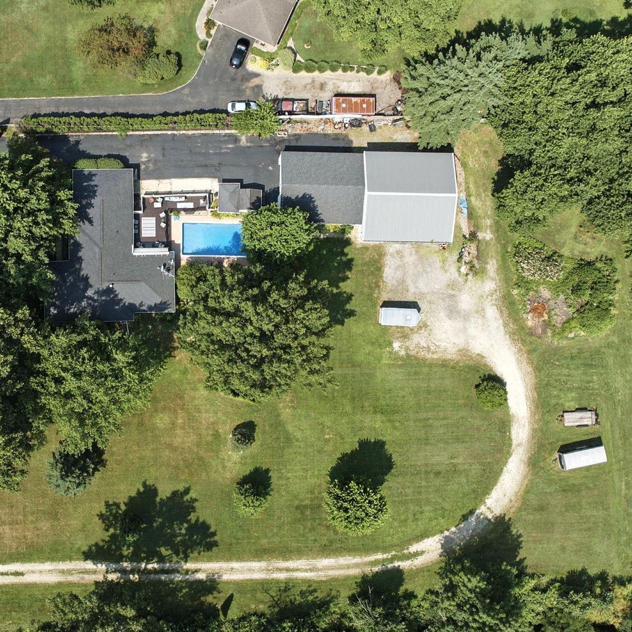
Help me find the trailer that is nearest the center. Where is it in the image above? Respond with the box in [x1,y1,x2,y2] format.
[376,306,422,328]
